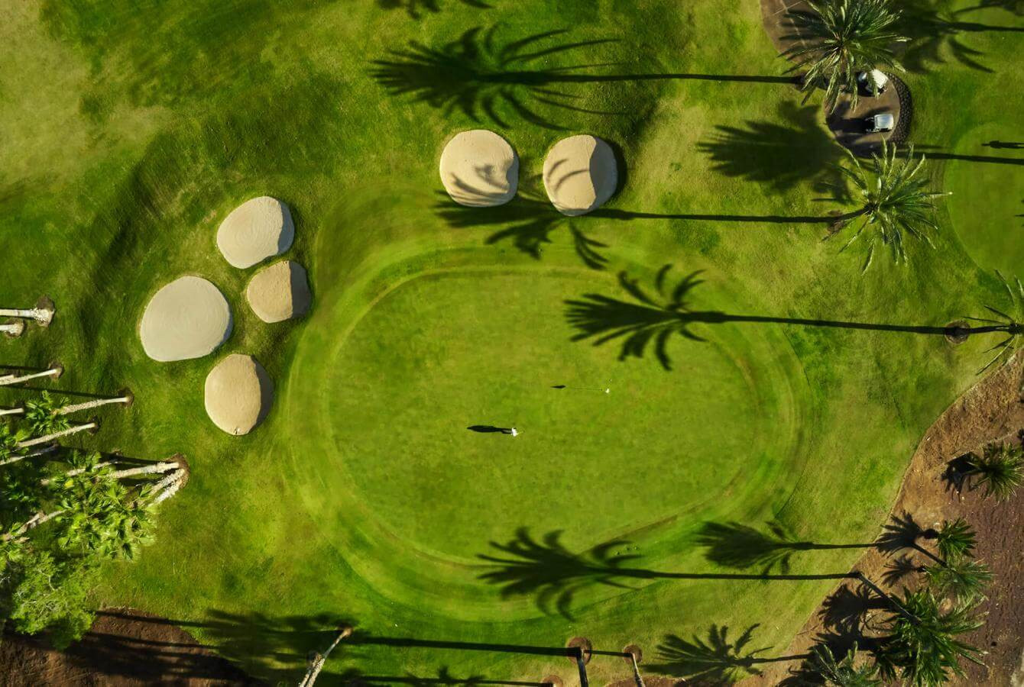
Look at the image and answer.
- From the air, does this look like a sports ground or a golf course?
golf course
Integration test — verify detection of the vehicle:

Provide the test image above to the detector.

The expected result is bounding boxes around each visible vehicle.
[866,67,891,93]
[863,112,896,130]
